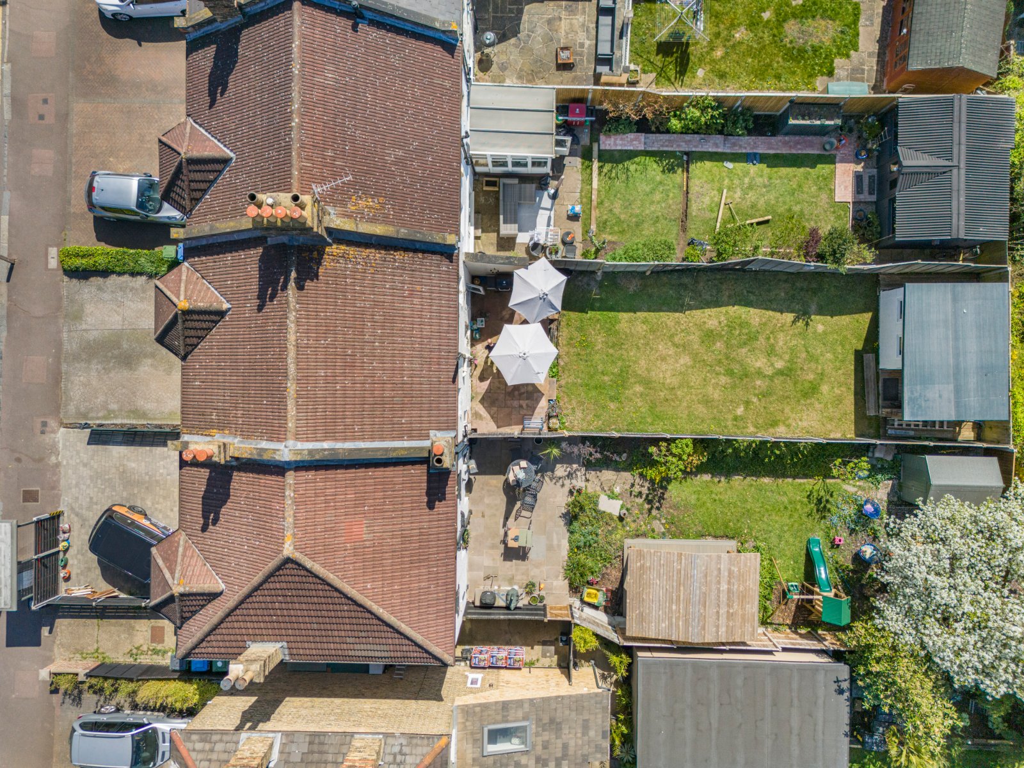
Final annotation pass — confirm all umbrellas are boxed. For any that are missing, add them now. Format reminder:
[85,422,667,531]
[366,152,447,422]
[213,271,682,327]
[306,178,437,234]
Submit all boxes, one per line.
[490,324,558,385]
[509,258,567,322]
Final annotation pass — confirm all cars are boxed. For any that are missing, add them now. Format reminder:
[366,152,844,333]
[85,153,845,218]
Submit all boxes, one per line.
[75,704,192,768]
[88,502,175,579]
[82,172,179,230]
[90,0,182,22]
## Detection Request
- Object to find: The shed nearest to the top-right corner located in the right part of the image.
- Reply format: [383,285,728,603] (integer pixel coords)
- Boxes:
[885,0,1001,93]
